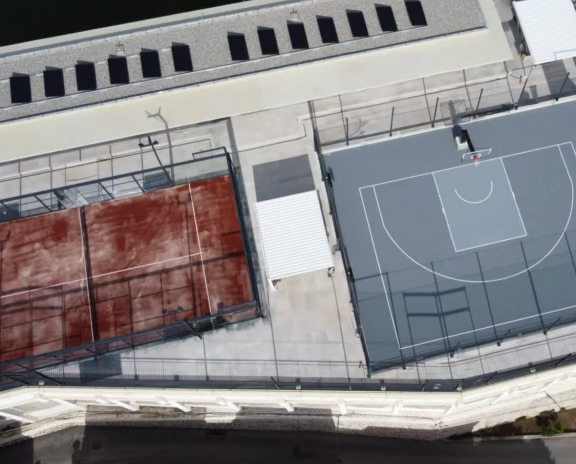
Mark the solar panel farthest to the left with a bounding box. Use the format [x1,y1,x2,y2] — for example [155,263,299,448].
[9,76,31,104]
